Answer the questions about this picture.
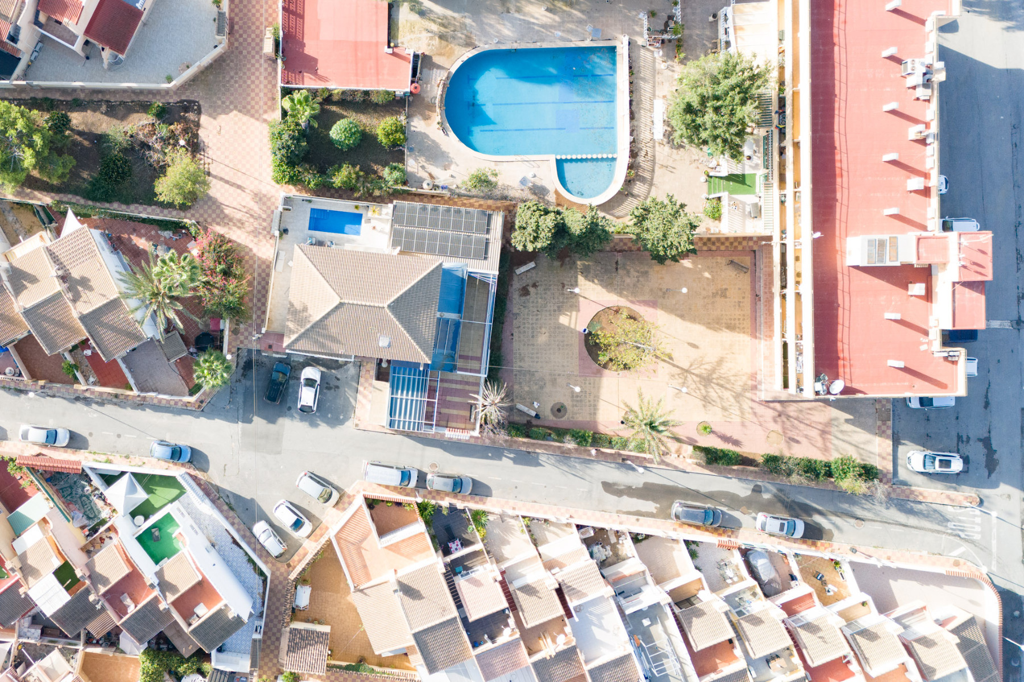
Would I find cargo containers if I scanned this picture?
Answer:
No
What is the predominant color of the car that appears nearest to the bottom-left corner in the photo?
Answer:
white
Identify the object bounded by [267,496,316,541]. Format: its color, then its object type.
white car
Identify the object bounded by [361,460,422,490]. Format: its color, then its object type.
white van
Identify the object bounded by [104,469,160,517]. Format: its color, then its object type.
white gazebo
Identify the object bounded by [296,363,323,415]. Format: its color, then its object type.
white car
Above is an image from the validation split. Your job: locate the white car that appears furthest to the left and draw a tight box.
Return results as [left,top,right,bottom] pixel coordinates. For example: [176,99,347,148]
[13,423,76,450]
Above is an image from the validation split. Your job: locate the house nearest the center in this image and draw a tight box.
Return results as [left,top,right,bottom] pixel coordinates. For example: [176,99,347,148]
[282,243,444,370]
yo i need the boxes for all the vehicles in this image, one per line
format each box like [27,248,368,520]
[938,329,985,347]
[296,363,323,415]
[937,174,953,196]
[261,355,294,408]
[361,460,422,490]
[967,354,982,374]
[290,467,344,507]
[907,449,963,476]
[267,496,316,541]
[669,500,723,529]
[753,511,806,540]
[424,470,475,498]
[248,517,291,562]
[13,423,76,450]
[938,210,983,231]
[906,396,959,412]
[144,438,196,465]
